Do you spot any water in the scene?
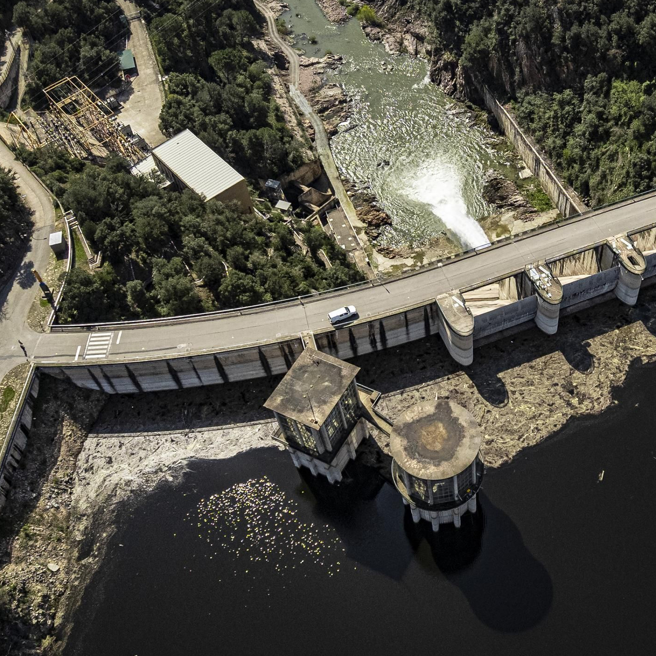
Yes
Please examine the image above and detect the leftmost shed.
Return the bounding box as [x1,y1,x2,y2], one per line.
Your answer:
[49,231,68,255]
